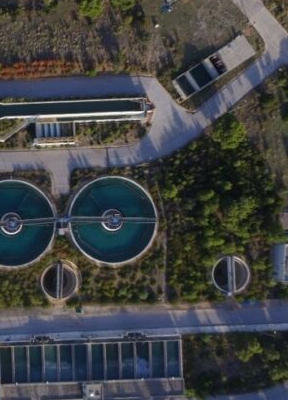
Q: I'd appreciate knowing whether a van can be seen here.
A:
No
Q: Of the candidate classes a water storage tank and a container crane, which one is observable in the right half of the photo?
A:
water storage tank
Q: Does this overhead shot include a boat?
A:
No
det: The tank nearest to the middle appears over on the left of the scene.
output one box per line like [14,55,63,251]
[65,174,158,267]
